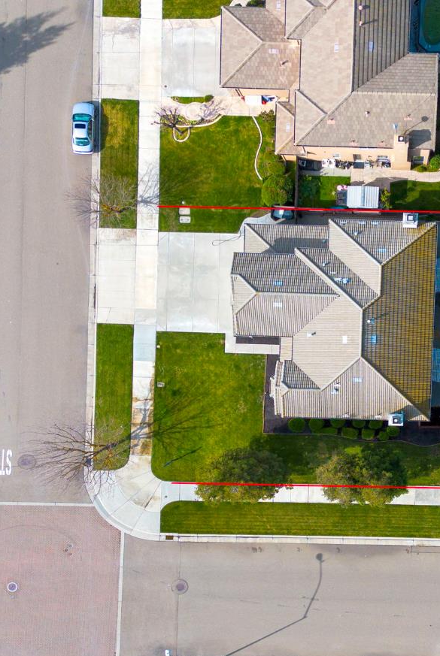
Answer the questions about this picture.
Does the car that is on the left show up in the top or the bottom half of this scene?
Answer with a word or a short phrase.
top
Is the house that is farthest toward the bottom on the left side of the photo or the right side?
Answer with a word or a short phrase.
right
